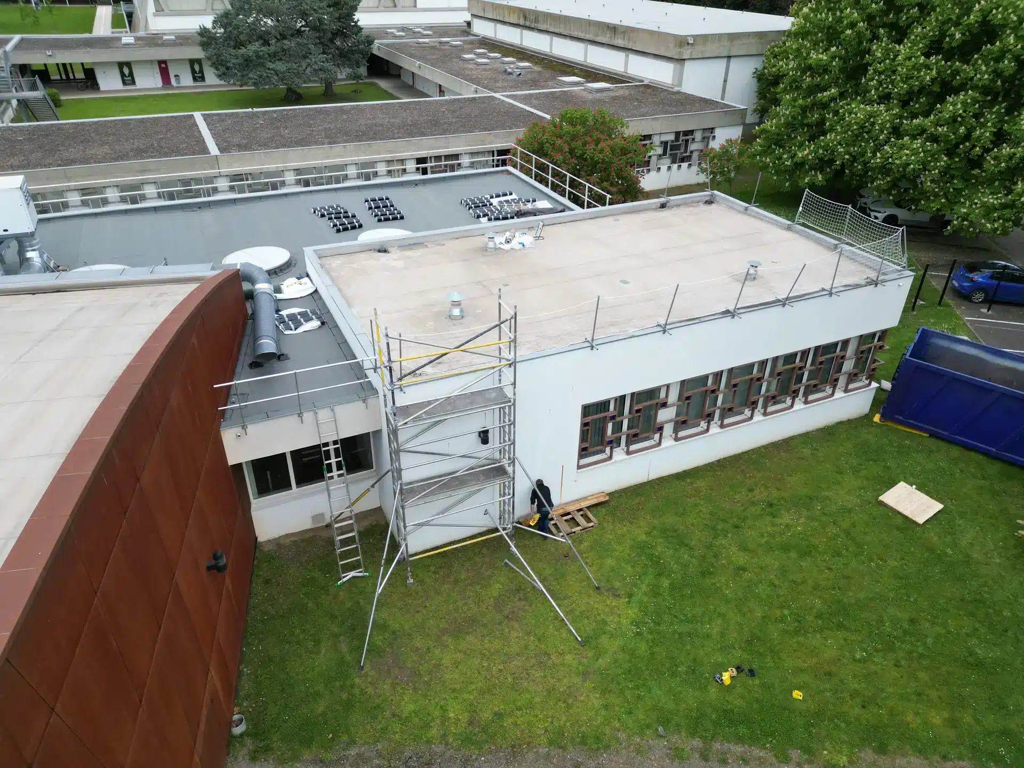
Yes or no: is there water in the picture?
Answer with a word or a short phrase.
No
